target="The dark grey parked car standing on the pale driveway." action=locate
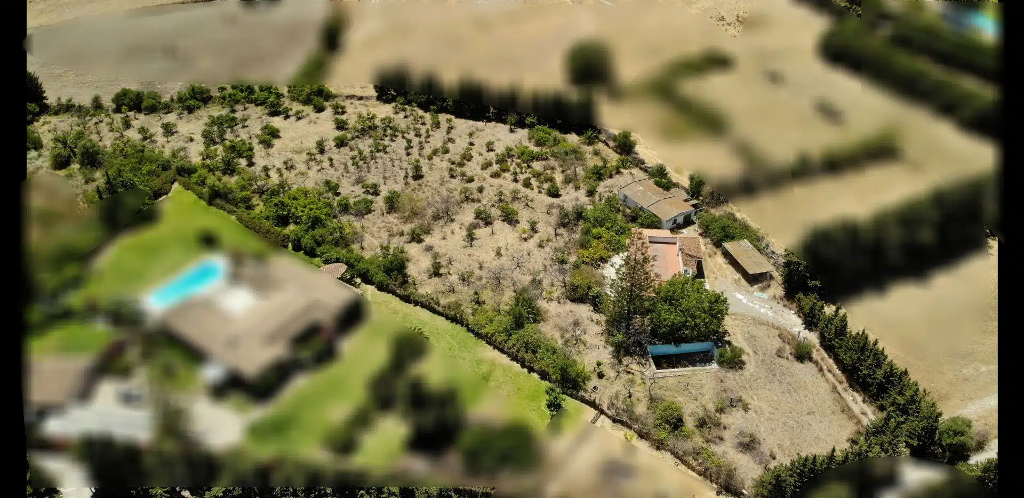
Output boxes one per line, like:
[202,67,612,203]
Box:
[110,387,146,405]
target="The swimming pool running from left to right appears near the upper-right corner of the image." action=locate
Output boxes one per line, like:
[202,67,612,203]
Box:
[964,17,1002,30]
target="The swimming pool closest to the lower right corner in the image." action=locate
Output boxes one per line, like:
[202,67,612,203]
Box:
[645,340,725,373]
